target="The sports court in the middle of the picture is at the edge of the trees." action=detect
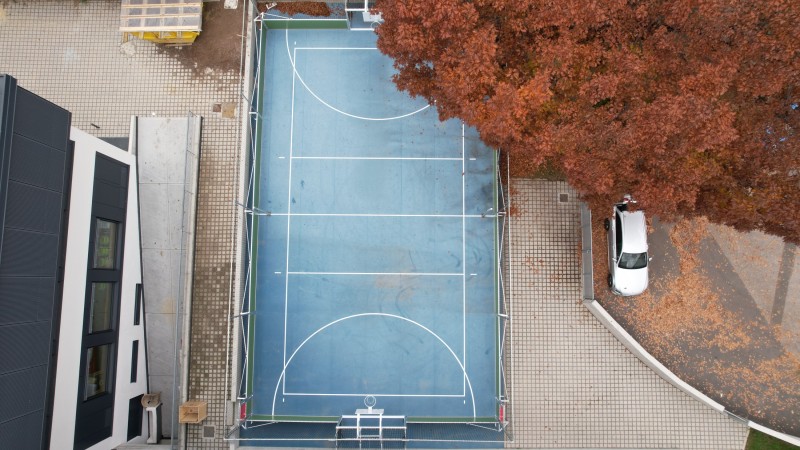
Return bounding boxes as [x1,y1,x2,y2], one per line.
[245,3,505,447]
